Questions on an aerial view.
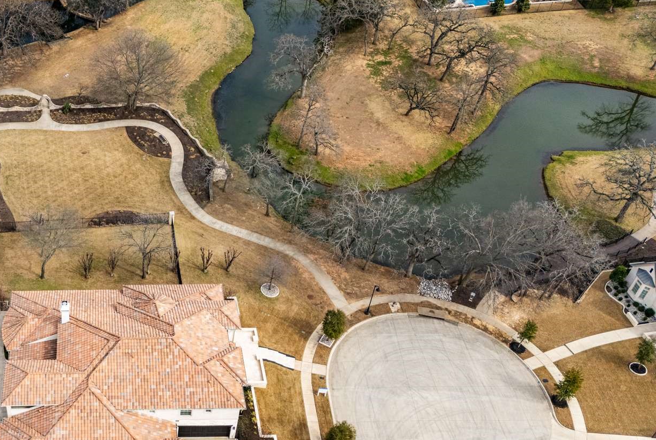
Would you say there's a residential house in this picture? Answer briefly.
Yes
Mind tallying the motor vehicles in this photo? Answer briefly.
zero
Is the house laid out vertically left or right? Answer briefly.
right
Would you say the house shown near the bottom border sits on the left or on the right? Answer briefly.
left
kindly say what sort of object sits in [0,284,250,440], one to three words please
house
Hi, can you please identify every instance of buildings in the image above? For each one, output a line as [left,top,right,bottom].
[624,236,656,308]
[0,284,250,440]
